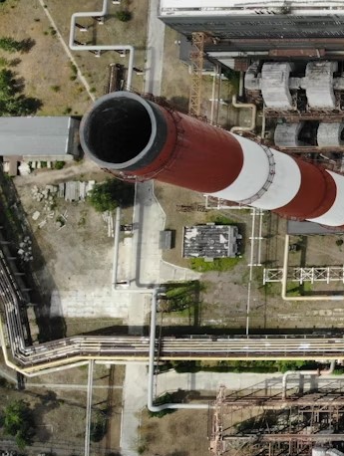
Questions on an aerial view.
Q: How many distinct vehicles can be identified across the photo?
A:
0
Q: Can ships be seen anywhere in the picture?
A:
No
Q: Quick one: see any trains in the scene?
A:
No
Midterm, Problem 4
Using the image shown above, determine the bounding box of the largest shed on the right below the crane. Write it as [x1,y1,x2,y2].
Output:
[183,224,243,259]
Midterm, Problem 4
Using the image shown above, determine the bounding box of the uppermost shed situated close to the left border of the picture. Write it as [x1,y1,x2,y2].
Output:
[0,116,84,159]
